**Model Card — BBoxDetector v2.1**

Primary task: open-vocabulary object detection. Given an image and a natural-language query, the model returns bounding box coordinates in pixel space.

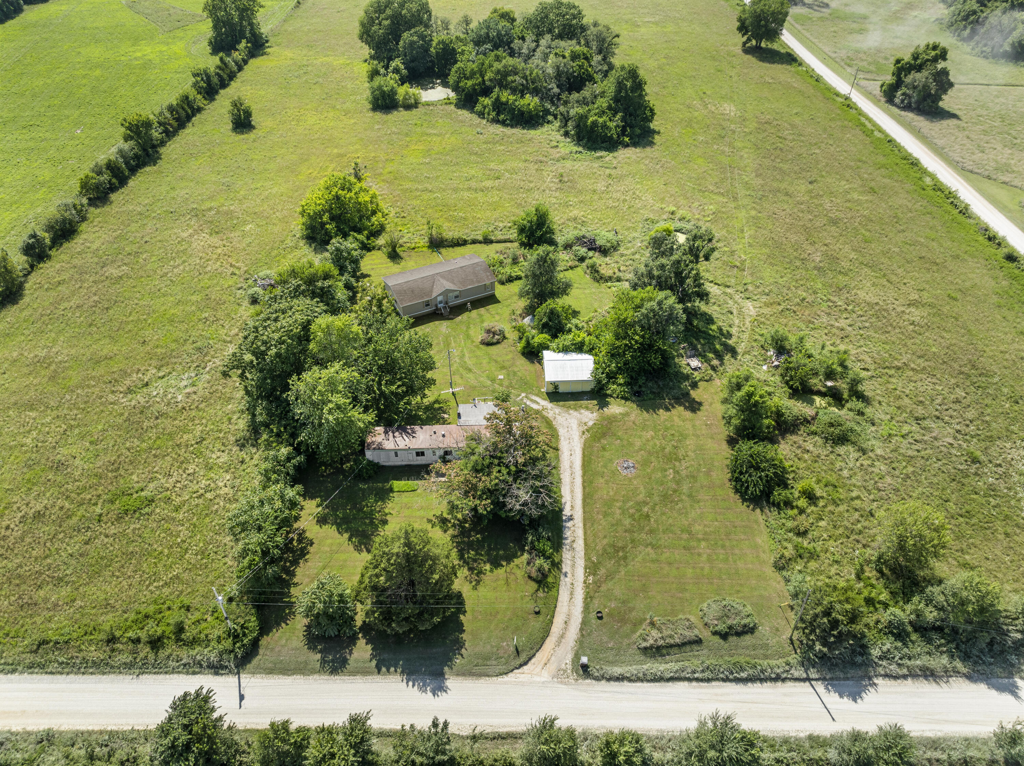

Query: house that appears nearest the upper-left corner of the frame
[385,254,496,318]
